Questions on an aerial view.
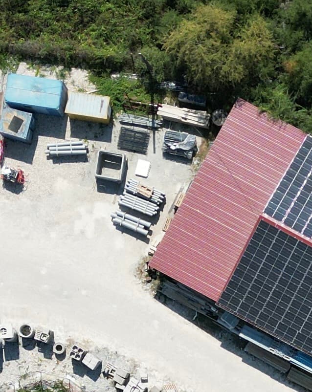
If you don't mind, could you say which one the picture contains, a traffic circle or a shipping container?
shipping container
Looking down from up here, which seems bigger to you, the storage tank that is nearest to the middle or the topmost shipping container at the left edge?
the shipping container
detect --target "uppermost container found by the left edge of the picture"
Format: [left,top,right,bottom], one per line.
[6,73,67,115]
